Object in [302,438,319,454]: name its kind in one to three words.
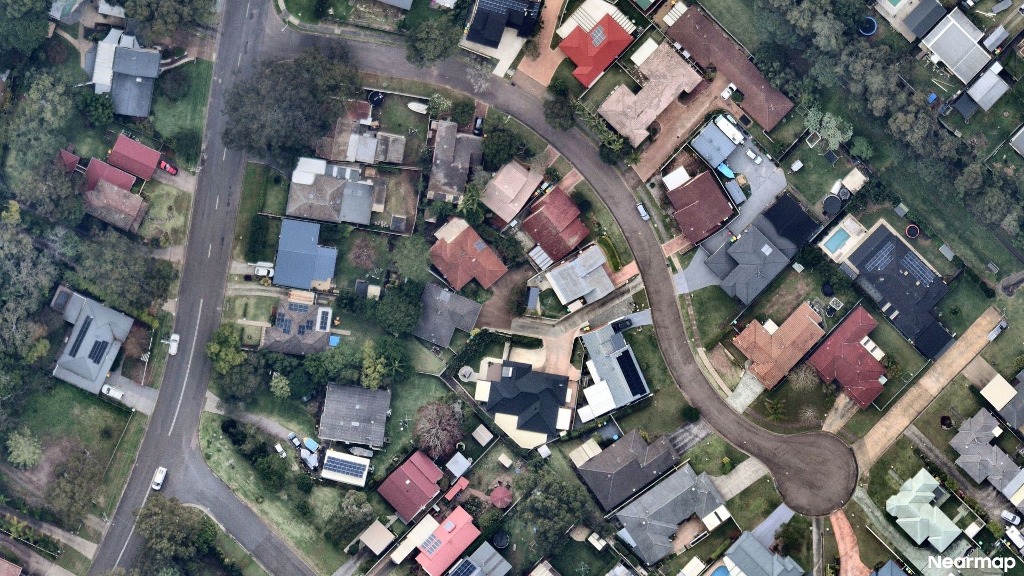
boat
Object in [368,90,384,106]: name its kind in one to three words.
trampoline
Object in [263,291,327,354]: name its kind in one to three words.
house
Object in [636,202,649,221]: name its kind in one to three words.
vehicle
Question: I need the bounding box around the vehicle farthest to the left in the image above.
[101,385,124,400]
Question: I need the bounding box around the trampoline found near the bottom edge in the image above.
[493,532,509,548]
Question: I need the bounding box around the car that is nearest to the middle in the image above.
[614,319,633,331]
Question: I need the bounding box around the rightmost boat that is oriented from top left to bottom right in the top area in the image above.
[716,164,737,180]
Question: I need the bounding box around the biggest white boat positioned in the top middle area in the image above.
[405,102,428,114]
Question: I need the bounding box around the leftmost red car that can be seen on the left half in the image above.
[159,161,177,175]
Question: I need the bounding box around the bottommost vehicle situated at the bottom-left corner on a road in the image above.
[152,467,166,490]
